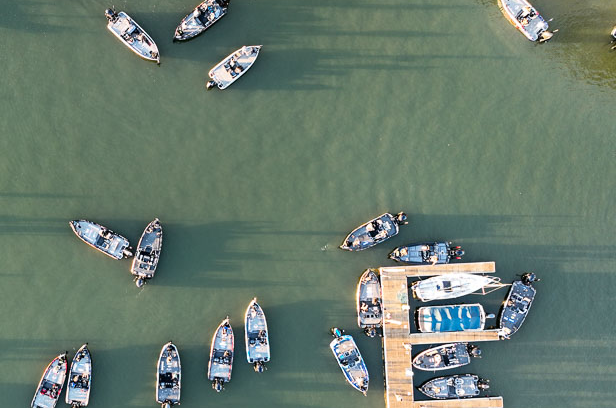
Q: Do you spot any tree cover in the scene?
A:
No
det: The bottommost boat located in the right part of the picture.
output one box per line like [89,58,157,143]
[416,372,488,399]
